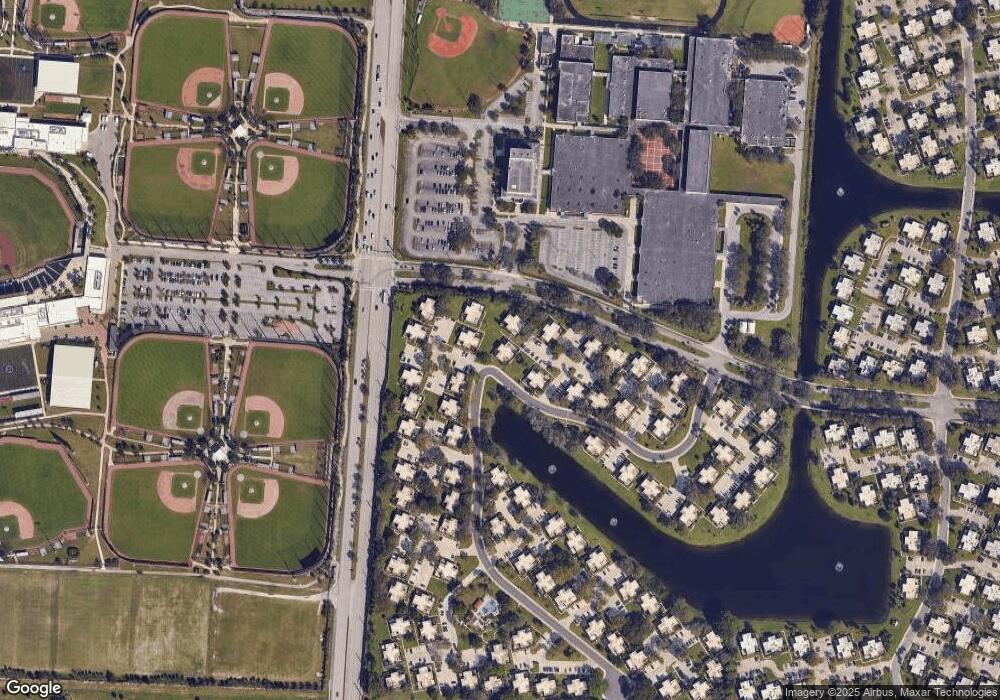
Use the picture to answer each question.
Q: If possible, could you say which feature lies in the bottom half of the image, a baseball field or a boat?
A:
baseball field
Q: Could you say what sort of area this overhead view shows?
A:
residential area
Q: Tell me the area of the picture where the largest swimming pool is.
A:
bottom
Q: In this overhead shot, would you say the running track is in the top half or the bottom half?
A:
top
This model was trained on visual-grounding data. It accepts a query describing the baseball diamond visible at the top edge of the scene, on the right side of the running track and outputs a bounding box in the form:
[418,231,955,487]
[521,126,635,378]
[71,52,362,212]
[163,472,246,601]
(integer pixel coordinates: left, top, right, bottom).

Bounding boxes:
[722,0,816,51]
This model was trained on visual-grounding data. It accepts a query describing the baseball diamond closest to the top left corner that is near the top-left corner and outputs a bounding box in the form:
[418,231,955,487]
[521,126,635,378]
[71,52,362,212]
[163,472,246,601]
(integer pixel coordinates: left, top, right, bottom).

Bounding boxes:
[27,0,138,40]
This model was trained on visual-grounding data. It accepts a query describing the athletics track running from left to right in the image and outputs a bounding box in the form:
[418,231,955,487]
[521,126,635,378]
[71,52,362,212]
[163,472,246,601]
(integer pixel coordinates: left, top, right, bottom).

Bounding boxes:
[563,0,727,30]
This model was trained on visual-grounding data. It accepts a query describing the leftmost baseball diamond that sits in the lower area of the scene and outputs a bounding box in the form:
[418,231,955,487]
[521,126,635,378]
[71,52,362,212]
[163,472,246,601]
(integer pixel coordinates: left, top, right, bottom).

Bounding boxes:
[0,437,92,554]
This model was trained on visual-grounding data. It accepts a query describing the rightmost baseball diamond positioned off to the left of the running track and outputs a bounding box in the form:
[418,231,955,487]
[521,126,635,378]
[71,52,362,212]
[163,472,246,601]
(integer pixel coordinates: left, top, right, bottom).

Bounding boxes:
[409,0,522,112]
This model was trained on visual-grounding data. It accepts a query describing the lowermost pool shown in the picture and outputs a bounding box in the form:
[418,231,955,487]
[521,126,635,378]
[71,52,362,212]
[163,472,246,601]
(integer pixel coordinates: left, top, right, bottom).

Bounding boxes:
[479,594,501,615]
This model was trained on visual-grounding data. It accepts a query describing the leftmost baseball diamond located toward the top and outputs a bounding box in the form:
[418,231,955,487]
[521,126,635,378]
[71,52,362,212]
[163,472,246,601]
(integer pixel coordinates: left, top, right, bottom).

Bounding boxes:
[0,166,74,282]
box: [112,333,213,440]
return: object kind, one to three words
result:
baseball field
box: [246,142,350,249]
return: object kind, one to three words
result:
baseball field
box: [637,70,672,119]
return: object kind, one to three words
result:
building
